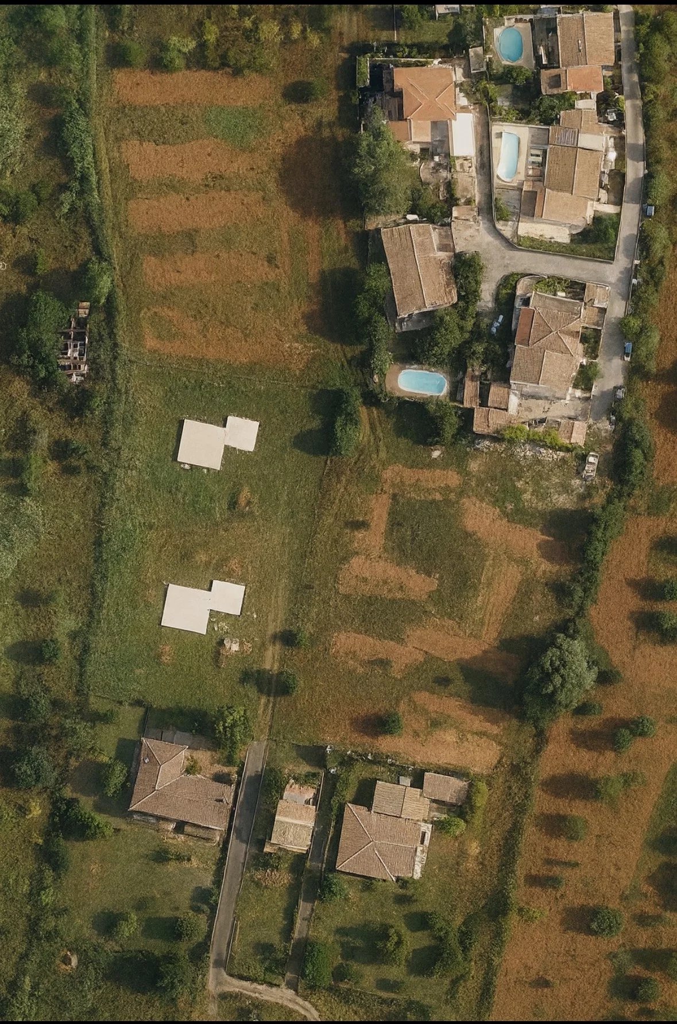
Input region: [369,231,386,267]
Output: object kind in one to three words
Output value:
shed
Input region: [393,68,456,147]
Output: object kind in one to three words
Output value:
house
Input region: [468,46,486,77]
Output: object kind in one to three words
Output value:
shed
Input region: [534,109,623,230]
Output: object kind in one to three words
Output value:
house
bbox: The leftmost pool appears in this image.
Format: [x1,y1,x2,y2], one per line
[396,368,449,396]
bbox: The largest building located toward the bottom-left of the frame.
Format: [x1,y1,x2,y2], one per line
[128,738,233,842]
